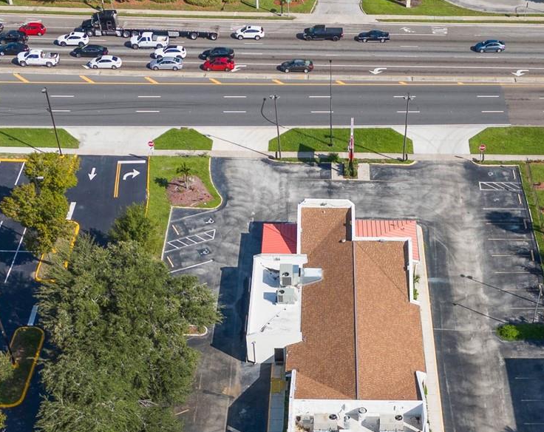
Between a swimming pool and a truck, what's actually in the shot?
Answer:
truck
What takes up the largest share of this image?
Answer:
paved ground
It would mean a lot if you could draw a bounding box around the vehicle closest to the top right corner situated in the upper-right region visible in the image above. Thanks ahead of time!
[472,38,506,52]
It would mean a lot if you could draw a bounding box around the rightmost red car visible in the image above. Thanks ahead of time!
[202,57,236,70]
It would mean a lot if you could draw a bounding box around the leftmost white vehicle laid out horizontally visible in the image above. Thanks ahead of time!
[17,50,60,67]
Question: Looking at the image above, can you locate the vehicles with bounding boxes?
[58,31,89,45]
[88,54,122,69]
[200,45,233,59]
[149,55,184,69]
[17,50,60,67]
[73,43,107,57]
[278,58,313,73]
[20,21,49,35]
[0,28,29,44]
[232,23,264,39]
[152,43,185,58]
[202,57,236,70]
[472,38,506,52]
[357,29,389,42]
[0,40,30,54]
[129,31,170,49]
[76,2,134,36]
[305,23,343,40]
